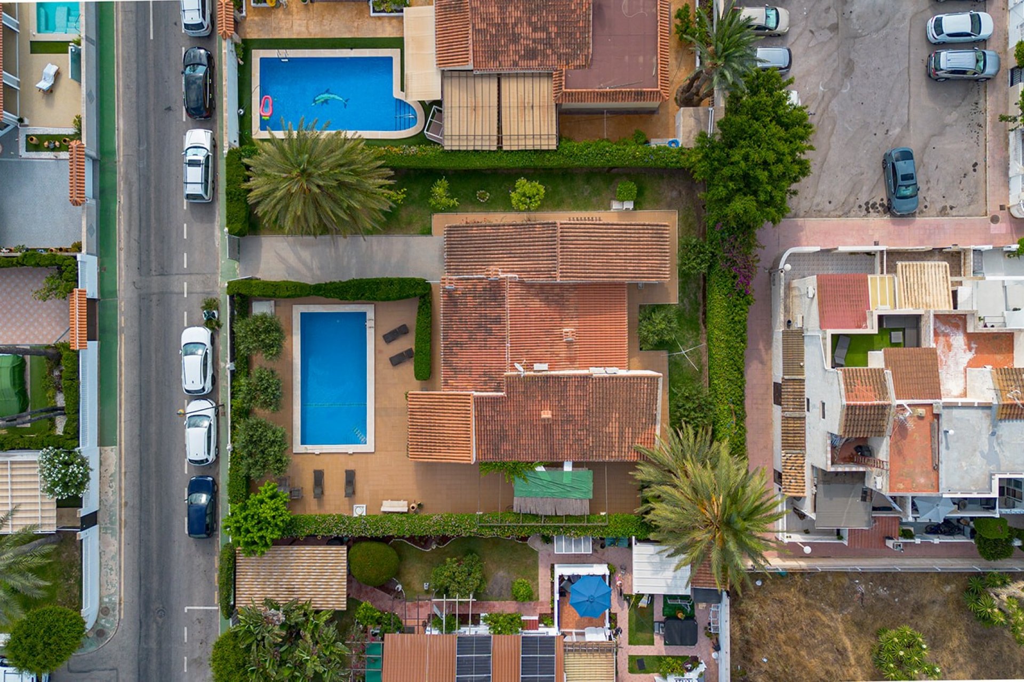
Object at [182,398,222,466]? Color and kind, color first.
white car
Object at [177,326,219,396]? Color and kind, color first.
white car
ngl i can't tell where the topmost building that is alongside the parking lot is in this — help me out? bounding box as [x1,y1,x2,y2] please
[435,0,672,117]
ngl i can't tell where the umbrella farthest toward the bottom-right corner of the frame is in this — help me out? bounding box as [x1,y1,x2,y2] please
[908,495,957,530]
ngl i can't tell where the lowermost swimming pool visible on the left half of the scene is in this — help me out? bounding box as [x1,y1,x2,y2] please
[293,304,375,453]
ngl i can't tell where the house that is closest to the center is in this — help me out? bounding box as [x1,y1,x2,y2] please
[407,220,671,464]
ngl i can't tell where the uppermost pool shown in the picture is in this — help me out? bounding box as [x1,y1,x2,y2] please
[29,0,79,40]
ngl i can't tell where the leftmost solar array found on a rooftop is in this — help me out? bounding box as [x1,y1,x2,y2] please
[457,636,491,682]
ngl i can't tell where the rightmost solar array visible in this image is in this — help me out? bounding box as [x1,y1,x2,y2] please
[521,636,555,682]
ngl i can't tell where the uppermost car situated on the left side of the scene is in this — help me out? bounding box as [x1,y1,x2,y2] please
[177,0,218,40]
